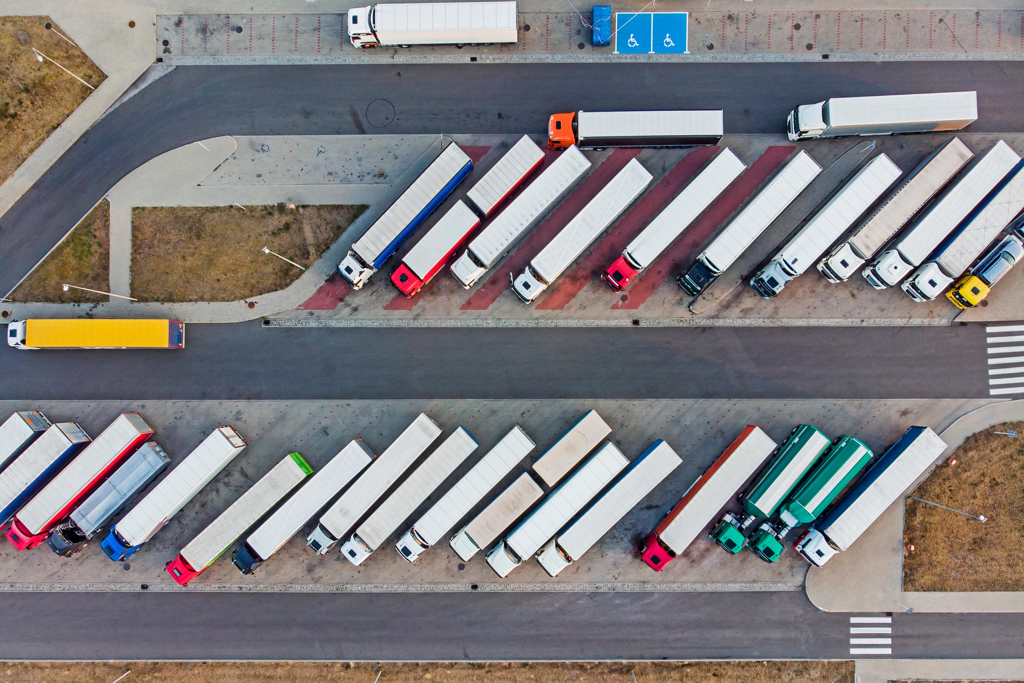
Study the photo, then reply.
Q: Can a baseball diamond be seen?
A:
No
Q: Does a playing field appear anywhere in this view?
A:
No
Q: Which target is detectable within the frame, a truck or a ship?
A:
truck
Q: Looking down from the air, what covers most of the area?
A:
paved ground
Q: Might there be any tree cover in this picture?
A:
No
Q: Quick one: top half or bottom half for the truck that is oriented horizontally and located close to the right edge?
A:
top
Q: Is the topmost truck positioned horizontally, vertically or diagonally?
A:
horizontally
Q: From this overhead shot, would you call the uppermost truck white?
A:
Yes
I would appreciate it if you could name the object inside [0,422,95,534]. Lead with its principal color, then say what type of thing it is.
white truck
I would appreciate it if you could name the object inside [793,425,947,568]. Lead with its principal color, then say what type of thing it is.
white truck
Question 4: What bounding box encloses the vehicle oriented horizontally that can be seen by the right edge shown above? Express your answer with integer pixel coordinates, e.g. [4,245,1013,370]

[786,92,978,139]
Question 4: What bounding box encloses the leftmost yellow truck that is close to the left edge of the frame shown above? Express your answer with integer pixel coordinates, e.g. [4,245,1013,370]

[7,319,187,350]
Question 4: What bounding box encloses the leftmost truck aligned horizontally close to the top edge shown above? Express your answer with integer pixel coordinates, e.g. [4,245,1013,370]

[348,2,519,48]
